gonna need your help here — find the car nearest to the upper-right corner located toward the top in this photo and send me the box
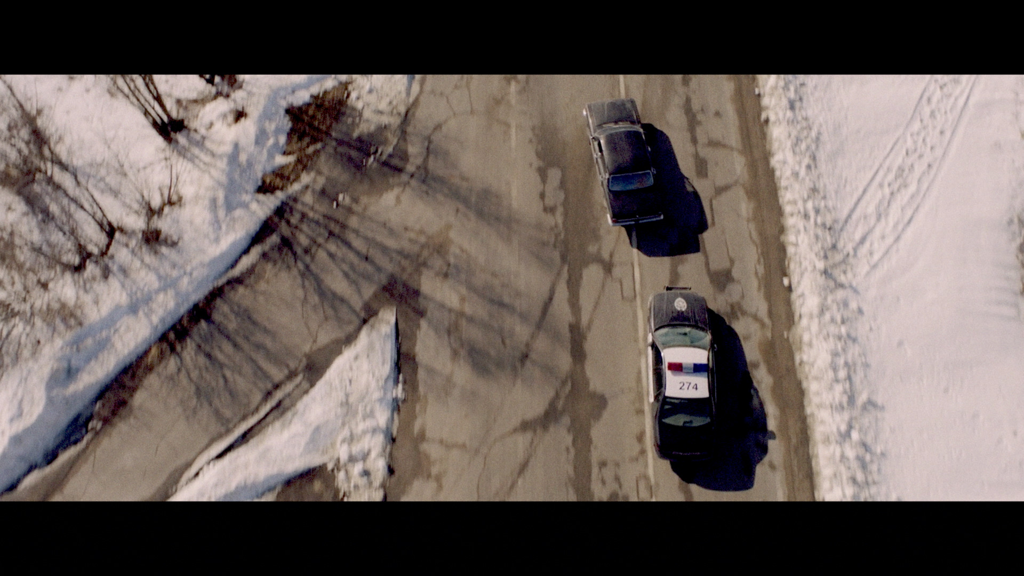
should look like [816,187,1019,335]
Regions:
[583,97,664,231]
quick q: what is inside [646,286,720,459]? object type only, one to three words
car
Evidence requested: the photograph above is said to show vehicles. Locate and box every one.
[646,286,720,459]
[583,97,664,231]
